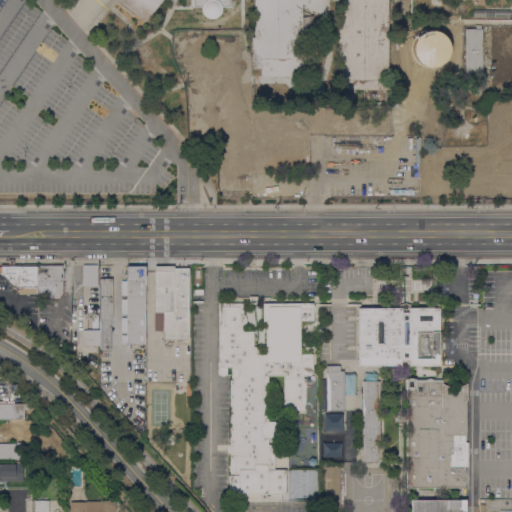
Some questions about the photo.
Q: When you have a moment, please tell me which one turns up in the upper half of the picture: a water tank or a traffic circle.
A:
water tank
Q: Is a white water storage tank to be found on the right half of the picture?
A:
Yes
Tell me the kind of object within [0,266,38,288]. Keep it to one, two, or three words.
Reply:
building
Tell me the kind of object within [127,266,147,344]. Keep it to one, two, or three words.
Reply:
building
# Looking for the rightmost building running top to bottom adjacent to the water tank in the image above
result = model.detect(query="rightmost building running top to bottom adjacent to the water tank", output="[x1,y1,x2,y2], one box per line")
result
[464,29,483,72]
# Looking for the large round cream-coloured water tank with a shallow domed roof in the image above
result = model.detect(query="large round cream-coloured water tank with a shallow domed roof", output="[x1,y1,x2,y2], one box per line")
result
[411,30,453,71]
